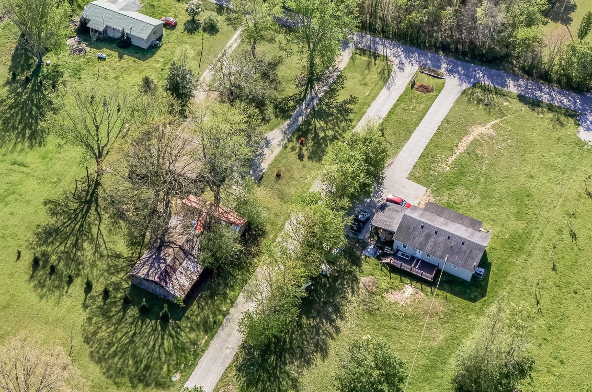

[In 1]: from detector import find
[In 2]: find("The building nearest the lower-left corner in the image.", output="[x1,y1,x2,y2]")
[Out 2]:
[128,217,226,309]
